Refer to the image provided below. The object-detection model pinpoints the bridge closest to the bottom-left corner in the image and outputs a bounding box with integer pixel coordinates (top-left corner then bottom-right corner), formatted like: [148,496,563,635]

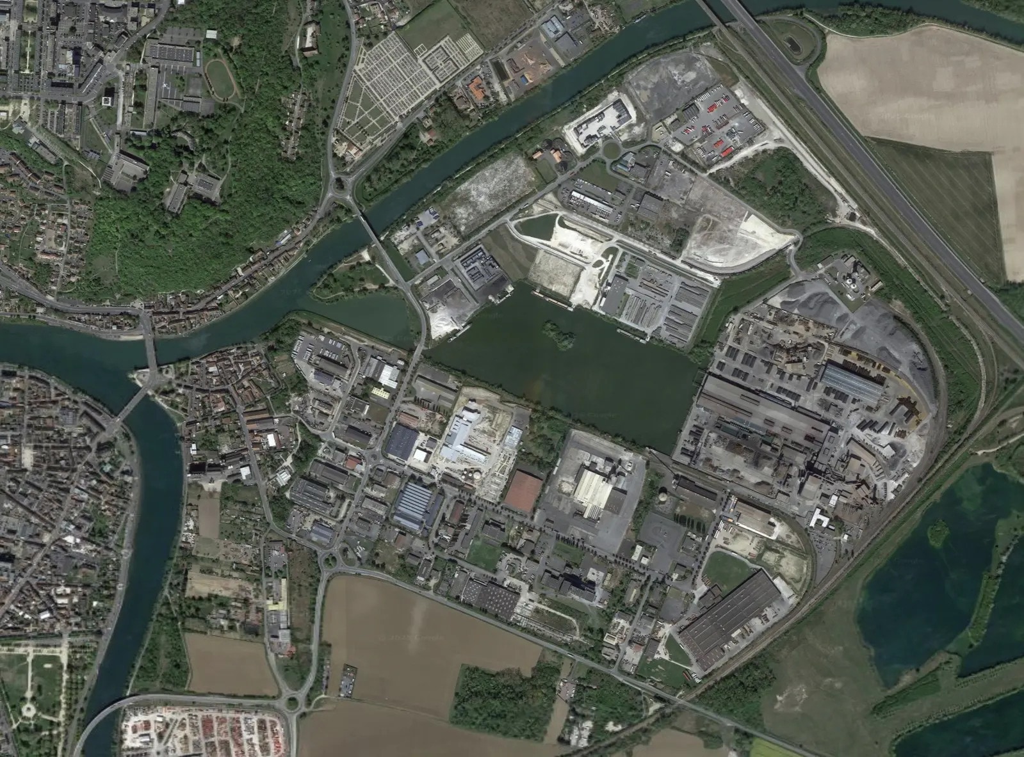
[72,693,173,757]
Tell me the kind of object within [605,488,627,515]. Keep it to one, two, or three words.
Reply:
building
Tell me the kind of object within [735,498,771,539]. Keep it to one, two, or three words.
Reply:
shed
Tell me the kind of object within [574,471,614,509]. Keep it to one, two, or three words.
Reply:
building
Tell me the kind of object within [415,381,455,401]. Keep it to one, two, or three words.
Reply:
shed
